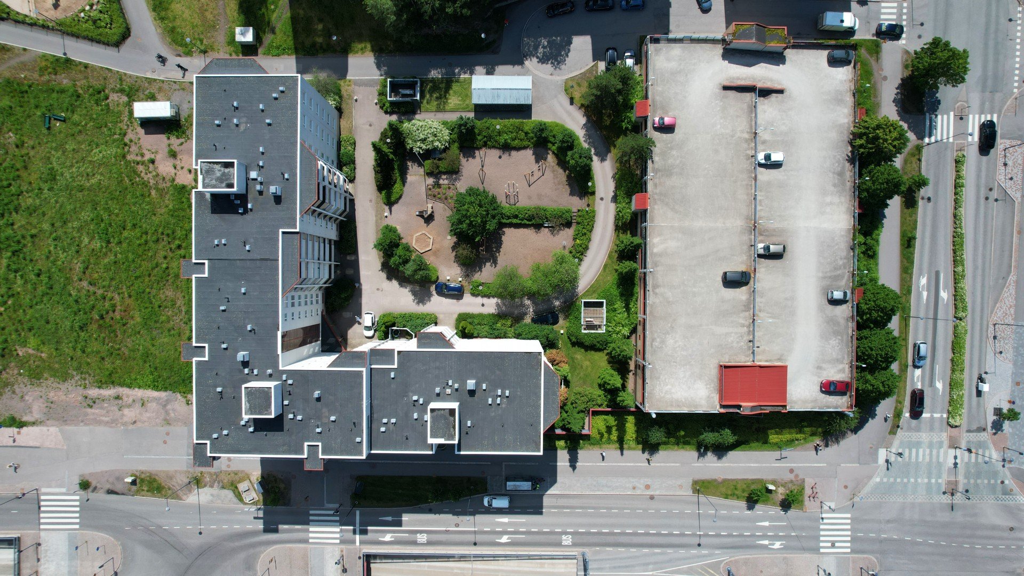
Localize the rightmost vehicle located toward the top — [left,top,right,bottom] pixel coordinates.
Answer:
[979,119,997,150]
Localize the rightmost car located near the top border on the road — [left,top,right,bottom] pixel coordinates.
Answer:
[875,22,904,37]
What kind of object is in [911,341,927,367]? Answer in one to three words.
car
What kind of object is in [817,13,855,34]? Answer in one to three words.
truck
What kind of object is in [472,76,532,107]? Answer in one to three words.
shed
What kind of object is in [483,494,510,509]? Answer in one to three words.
vehicle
